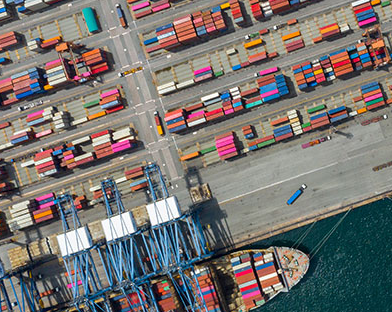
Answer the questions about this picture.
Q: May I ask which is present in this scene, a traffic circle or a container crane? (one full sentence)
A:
The image shows a container crane.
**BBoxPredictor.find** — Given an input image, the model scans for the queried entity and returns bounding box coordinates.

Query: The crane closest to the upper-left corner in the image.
[52,40,93,86]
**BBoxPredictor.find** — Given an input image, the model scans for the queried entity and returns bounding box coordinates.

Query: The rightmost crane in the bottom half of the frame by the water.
[141,163,215,312]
